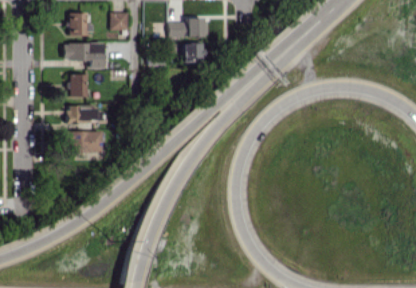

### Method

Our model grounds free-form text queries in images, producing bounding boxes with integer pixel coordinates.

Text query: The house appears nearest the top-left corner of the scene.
[67,13,92,36]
